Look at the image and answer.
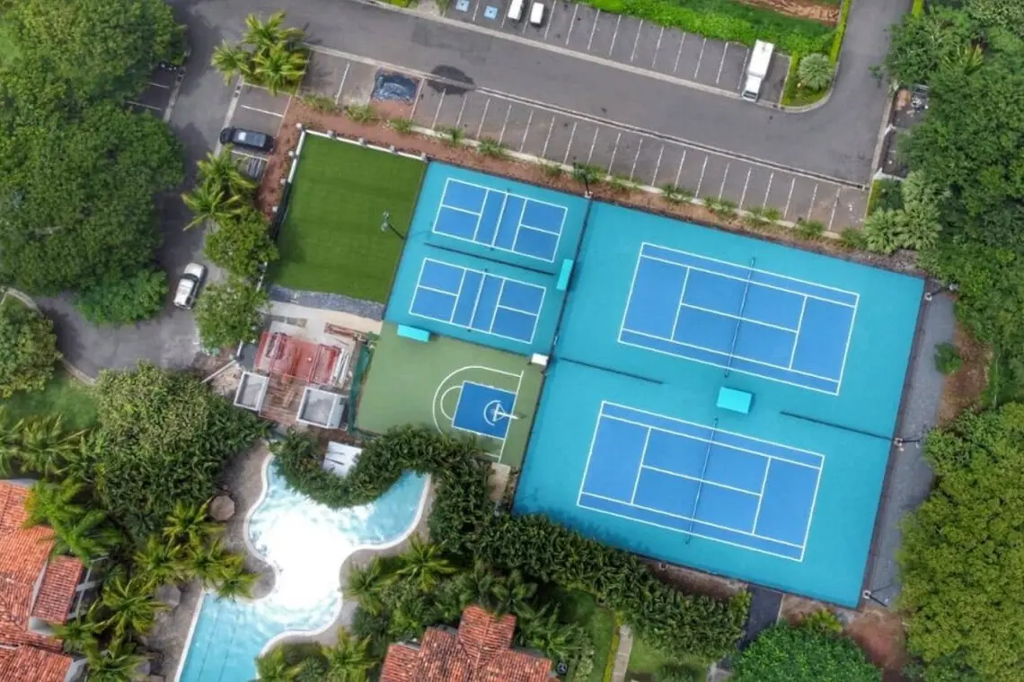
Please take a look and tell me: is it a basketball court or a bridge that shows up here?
basketball court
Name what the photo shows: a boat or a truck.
truck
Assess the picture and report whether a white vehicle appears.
Yes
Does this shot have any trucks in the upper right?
Yes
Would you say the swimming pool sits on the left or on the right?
left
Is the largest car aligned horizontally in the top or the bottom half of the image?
top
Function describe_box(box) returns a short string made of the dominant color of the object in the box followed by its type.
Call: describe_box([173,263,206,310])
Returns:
white car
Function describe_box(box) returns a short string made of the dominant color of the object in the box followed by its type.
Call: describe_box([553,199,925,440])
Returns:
blue tennis court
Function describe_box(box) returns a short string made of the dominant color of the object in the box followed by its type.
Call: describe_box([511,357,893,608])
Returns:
blue tennis court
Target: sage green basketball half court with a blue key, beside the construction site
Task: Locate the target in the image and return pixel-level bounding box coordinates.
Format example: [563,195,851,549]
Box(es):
[356,321,551,470]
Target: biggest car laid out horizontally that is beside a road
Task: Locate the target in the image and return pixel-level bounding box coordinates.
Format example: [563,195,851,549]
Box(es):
[220,125,277,154]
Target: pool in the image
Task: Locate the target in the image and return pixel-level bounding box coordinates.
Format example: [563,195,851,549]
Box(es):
[173,454,433,682]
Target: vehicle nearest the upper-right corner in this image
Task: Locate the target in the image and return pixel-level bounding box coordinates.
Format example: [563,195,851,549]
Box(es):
[742,34,778,100]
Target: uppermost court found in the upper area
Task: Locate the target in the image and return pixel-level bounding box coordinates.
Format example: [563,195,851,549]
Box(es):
[406,161,589,276]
